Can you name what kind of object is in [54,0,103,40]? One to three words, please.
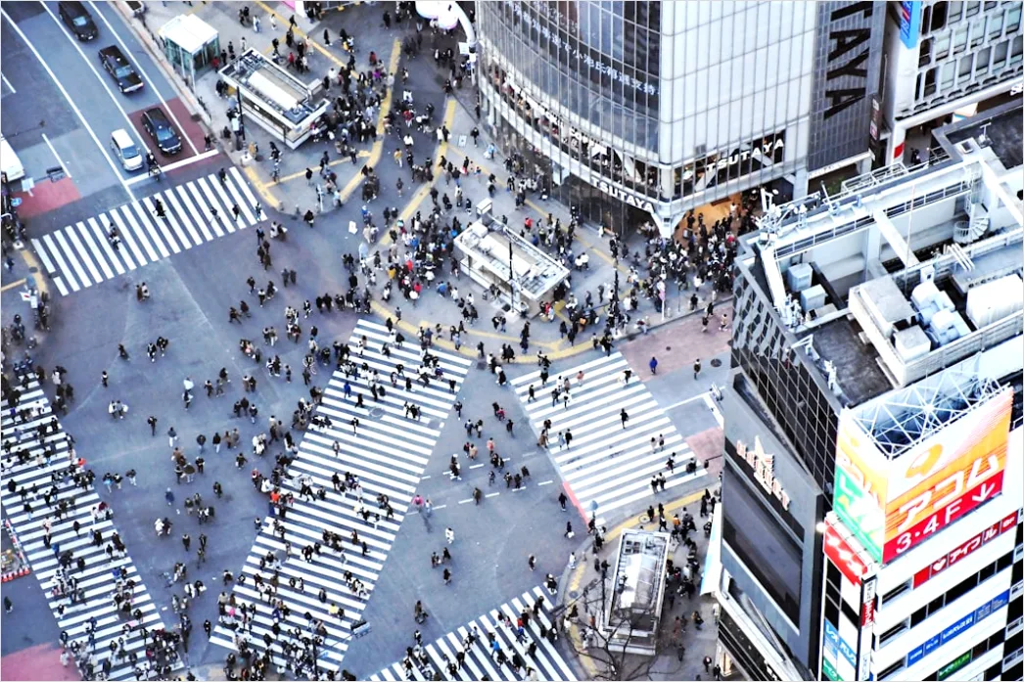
car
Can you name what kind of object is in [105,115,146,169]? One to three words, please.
car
